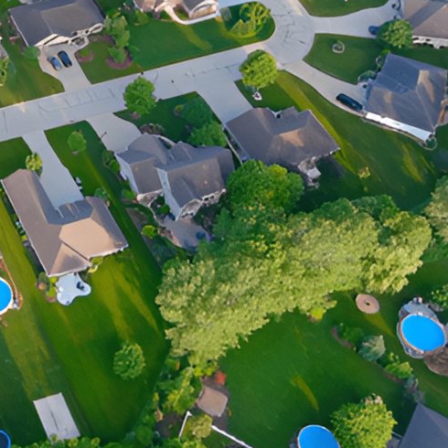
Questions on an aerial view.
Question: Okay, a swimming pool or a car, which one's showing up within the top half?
car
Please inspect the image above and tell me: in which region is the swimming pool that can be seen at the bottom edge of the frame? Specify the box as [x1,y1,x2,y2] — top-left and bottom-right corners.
[289,418,343,448]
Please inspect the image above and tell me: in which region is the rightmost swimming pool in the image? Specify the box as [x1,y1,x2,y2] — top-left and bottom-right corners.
[395,312,447,352]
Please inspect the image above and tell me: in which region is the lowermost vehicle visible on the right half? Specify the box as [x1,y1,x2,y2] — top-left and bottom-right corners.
[339,88,365,107]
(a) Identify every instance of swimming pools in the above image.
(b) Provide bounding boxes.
[289,418,343,448]
[0,278,16,315]
[395,312,447,352]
